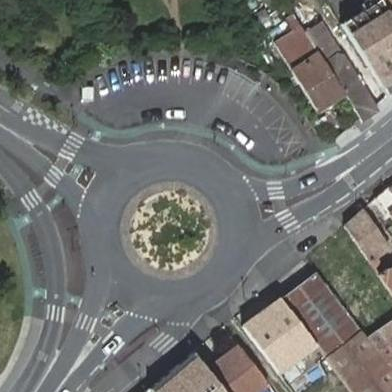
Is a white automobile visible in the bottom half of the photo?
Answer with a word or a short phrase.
Yes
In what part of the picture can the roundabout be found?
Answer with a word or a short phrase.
center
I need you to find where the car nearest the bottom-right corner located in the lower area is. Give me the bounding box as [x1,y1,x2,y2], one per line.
[297,235,316,250]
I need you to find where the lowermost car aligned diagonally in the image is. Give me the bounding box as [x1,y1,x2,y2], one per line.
[102,335,123,355]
